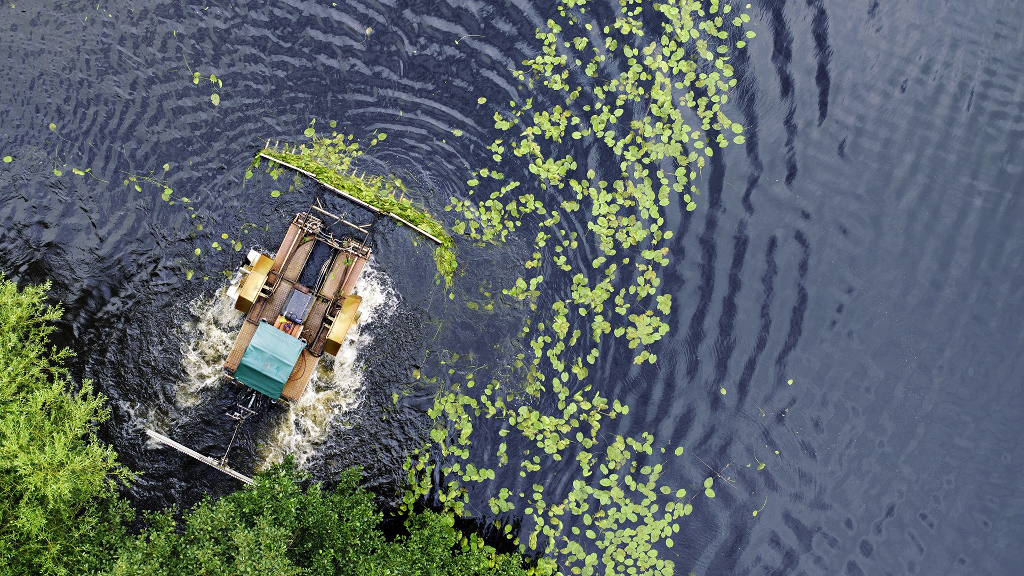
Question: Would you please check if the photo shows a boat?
Yes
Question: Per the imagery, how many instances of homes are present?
none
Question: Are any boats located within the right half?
No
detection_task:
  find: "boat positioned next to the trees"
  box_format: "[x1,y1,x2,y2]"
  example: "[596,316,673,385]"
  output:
[146,138,448,486]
